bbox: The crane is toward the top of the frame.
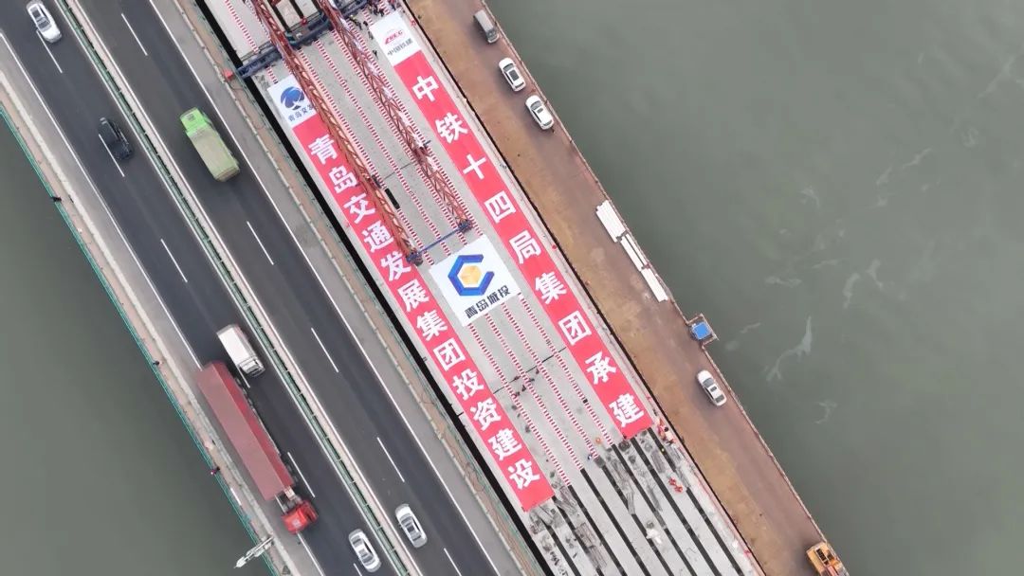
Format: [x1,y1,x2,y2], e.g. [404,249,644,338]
[240,0,476,267]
